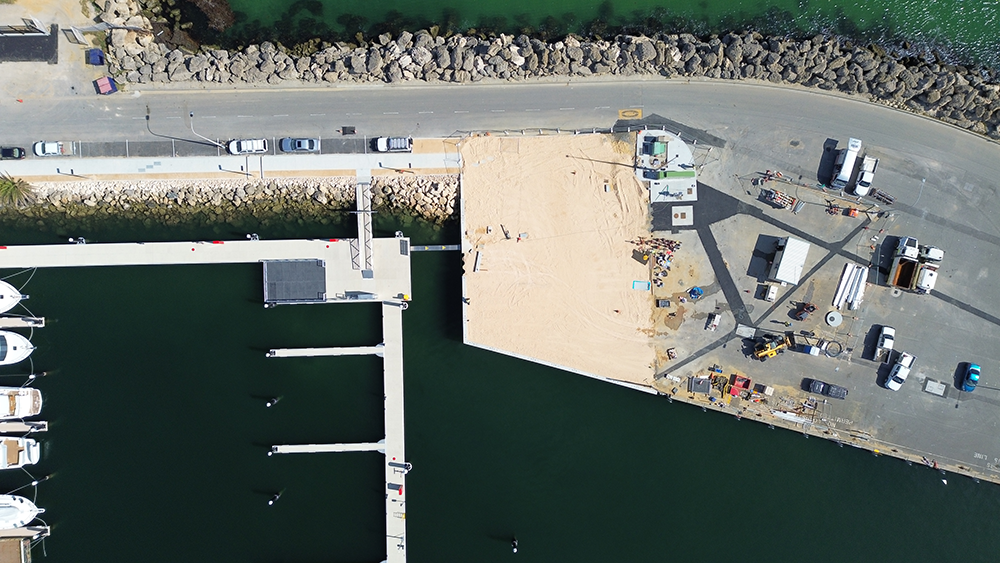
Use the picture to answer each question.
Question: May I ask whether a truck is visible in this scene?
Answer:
Yes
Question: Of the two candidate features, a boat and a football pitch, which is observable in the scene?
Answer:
boat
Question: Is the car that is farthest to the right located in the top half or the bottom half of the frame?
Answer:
bottom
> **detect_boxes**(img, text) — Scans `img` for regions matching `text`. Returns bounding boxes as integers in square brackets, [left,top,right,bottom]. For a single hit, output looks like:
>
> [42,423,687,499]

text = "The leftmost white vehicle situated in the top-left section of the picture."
[35,140,80,158]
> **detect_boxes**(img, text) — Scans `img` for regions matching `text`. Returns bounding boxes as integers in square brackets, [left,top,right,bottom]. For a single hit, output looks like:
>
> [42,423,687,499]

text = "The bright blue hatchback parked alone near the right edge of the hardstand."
[957,360,979,392]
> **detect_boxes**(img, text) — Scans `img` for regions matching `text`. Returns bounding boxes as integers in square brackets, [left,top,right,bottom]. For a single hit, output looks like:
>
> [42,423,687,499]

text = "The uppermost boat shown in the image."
[0,284,28,309]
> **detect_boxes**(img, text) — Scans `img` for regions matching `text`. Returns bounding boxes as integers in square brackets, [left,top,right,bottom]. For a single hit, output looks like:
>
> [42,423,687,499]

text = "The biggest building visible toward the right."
[764,237,810,289]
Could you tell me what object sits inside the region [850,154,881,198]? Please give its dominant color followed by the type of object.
white truck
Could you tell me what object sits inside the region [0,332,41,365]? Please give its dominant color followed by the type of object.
white boat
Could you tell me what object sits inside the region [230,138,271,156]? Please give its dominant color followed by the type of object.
white car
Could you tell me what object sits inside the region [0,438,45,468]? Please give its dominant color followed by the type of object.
white boat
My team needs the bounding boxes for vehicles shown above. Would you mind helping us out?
[882,350,914,391]
[281,137,320,154]
[957,360,979,392]
[375,136,412,153]
[873,323,896,364]
[914,245,942,293]
[790,299,817,323]
[35,140,80,158]
[820,135,869,191]
[886,235,926,294]
[805,377,851,402]
[850,154,881,198]
[753,329,797,360]
[230,138,271,156]
[0,144,28,161]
